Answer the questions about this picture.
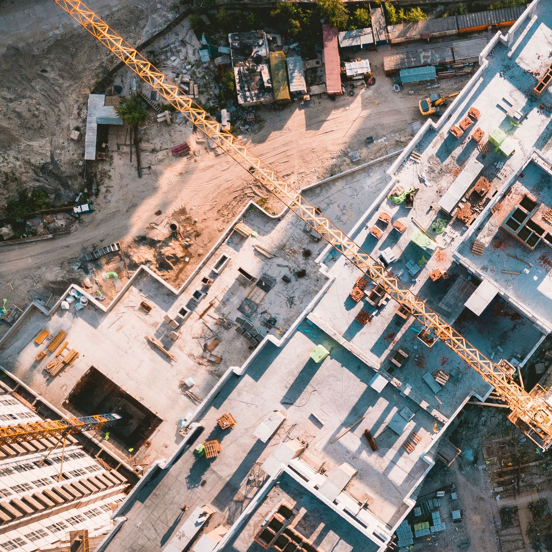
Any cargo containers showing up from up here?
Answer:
Yes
